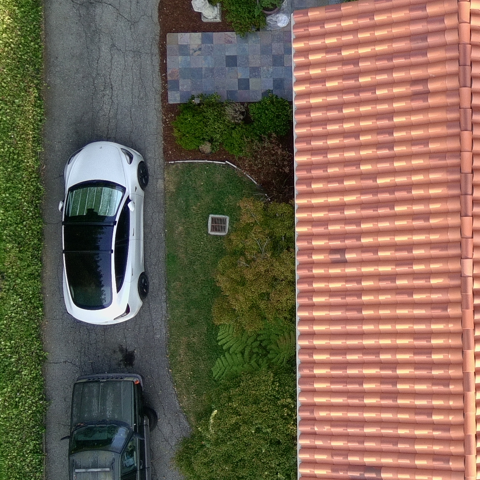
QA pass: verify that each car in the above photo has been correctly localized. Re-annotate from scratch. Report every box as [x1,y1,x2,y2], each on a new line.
[58,143,156,326]
[59,372,166,480]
